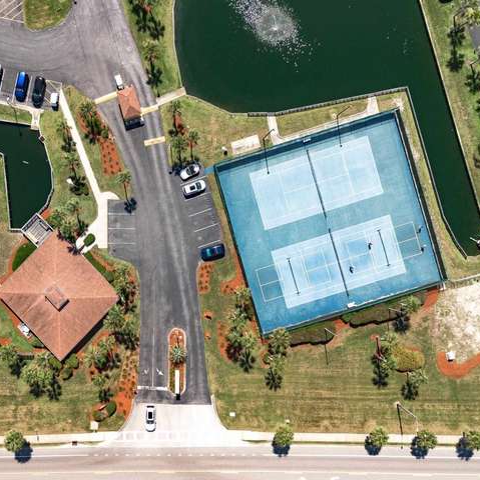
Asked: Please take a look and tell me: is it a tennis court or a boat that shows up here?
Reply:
tennis court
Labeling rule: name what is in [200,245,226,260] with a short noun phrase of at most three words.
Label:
car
